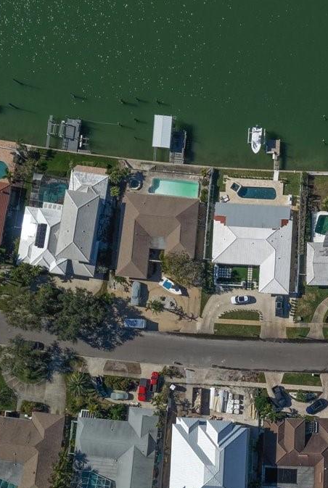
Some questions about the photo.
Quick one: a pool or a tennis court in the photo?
pool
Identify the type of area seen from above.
residential area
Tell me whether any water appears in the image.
Yes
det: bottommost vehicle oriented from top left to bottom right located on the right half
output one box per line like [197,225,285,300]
[271,385,288,405]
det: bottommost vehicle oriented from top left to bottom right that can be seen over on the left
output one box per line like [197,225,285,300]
[91,376,109,397]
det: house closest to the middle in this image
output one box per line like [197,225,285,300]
[116,193,200,278]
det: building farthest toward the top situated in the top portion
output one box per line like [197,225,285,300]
[152,113,176,150]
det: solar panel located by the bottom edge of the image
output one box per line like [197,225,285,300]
[278,469,296,485]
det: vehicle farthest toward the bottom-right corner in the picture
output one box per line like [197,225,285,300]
[309,398,327,413]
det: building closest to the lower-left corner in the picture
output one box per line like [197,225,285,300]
[0,411,67,488]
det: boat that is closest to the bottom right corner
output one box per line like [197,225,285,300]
[158,277,182,292]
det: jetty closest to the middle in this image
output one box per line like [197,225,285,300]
[167,132,185,163]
